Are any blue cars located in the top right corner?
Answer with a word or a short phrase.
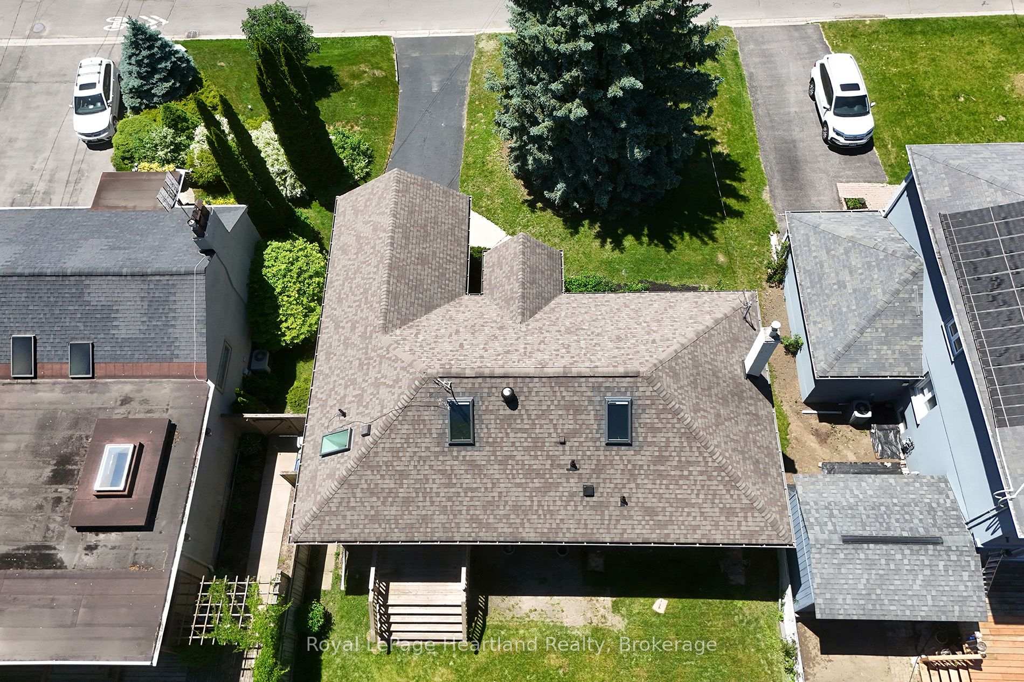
No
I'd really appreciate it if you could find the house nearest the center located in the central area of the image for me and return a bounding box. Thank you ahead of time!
[287,169,797,590]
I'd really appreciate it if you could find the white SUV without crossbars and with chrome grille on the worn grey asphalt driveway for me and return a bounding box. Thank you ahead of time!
[807,56,877,146]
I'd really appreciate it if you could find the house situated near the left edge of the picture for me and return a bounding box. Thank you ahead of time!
[0,170,256,675]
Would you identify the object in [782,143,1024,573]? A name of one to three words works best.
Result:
house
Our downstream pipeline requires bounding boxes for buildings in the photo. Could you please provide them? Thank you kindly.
[782,143,1024,573]
[287,169,797,590]
[0,170,256,675]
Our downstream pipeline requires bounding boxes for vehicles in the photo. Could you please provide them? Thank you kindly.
[63,53,123,141]
[807,56,877,146]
